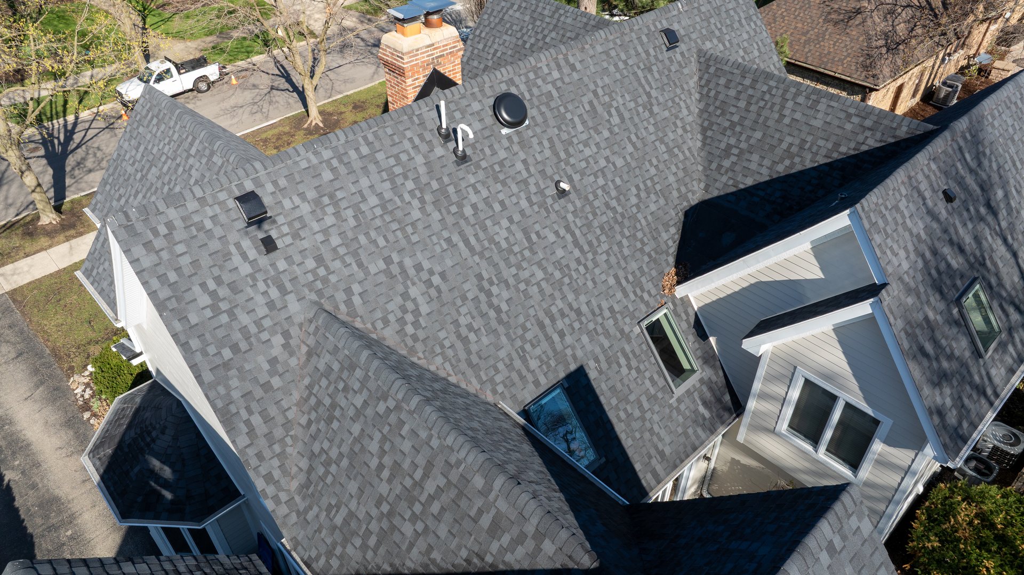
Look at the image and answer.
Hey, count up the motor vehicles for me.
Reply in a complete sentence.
Only 1 motor vehicle is visible.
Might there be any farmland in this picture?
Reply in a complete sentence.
No, there is no farmland in the image.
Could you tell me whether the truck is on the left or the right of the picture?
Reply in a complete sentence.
The truck is on the left side of the image.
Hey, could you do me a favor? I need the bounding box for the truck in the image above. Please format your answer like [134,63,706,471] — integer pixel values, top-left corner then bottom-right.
[113,55,224,107]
